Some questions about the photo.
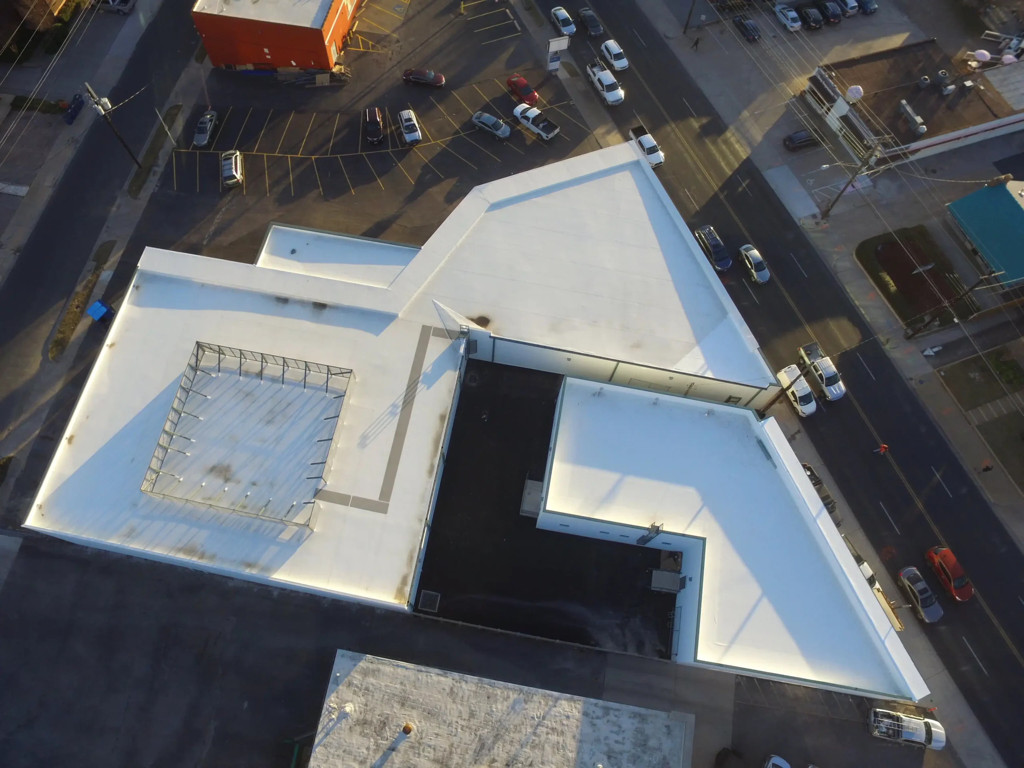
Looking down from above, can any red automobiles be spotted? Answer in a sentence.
Yes, looking at the shot, I can spot a red automobile.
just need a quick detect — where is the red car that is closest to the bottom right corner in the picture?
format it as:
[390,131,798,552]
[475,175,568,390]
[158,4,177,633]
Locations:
[929,545,972,602]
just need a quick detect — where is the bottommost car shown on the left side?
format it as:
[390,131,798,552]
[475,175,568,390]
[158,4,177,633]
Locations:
[217,149,243,189]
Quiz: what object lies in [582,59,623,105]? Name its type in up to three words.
truck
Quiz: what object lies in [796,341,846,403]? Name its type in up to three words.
truck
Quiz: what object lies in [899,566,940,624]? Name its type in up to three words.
car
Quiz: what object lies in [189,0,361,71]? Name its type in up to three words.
building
